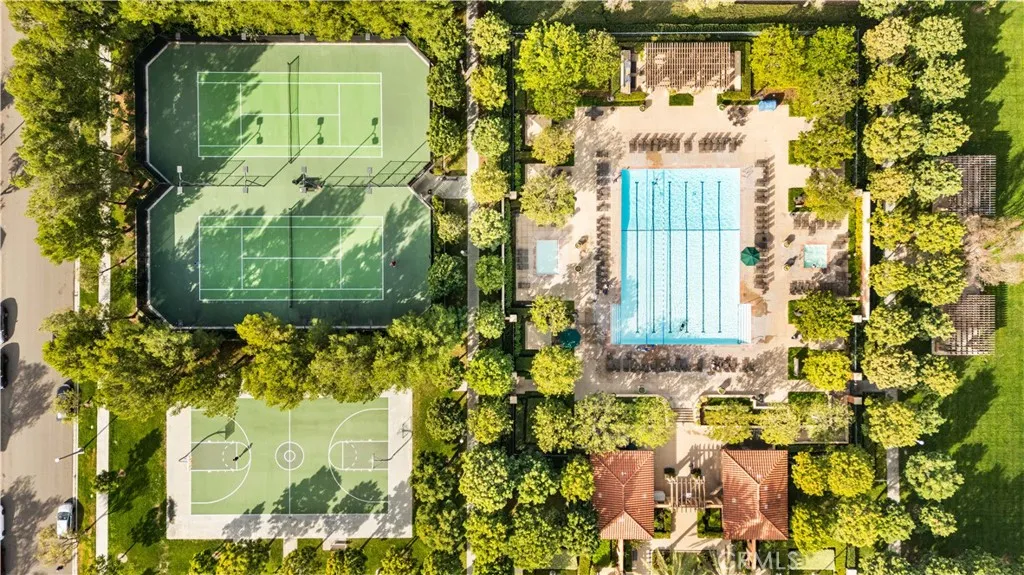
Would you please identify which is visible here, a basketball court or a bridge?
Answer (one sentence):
The one in the frame is a basketball court.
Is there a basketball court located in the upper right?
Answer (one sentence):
No, no basketball court is visible in the upper right.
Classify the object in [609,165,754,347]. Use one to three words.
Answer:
swimming pool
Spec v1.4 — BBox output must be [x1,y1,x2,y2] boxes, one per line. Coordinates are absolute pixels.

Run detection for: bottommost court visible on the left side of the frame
[166,390,412,540]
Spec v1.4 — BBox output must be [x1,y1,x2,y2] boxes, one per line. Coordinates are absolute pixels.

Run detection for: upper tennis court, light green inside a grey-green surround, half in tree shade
[148,44,427,187]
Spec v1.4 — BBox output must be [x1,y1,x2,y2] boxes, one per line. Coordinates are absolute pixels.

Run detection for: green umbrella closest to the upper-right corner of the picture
[739,247,758,266]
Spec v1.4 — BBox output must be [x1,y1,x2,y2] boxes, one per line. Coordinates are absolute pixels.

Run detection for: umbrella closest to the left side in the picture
[559,327,580,348]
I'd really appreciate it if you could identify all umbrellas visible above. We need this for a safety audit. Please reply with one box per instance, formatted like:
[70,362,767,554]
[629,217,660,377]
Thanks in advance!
[559,327,580,348]
[739,247,758,266]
